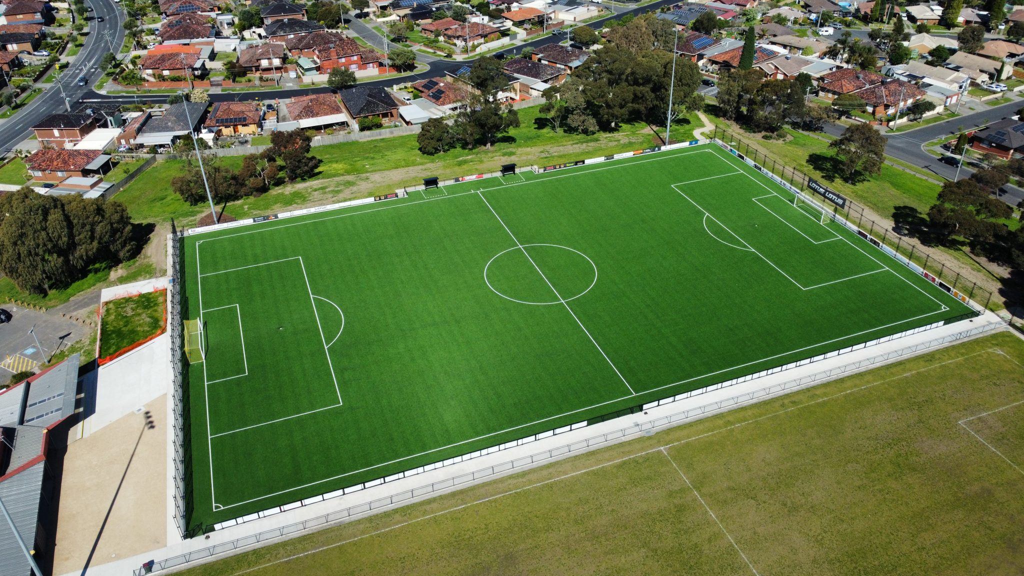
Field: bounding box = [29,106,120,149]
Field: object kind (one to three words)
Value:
house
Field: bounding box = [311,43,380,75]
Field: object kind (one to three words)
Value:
house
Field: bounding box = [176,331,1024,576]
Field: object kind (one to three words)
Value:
sports field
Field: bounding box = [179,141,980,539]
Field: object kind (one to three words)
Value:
sports field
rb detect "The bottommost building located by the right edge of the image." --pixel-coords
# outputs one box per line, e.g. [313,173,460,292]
[970,116,1024,159]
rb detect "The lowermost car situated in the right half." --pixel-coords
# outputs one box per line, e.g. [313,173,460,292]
[939,155,966,167]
